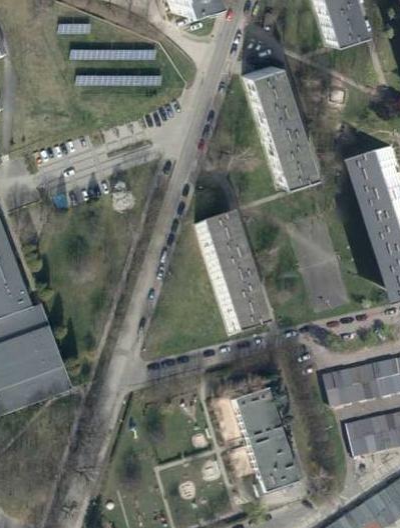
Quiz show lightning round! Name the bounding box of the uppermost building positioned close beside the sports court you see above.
[242,71,320,193]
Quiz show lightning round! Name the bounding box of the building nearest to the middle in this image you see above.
[195,210,273,331]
